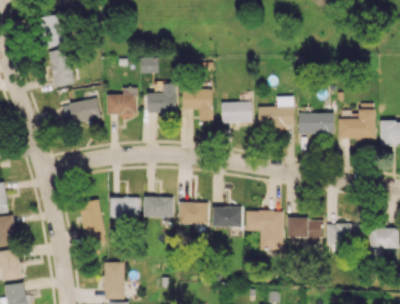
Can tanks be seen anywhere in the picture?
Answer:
No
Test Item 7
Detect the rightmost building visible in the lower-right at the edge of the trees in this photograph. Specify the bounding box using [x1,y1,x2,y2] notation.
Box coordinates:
[370,228,399,248]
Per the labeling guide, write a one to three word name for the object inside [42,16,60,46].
house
